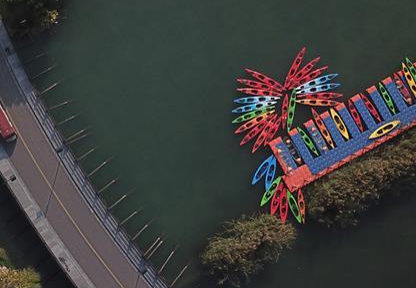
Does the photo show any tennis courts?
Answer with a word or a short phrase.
No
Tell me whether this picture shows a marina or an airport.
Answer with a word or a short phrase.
marina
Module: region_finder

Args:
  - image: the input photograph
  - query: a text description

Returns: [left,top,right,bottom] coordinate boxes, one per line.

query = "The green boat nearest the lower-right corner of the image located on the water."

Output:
[288,190,301,223]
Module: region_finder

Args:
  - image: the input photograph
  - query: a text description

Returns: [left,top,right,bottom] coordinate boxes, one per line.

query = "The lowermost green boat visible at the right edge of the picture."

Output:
[380,83,396,115]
